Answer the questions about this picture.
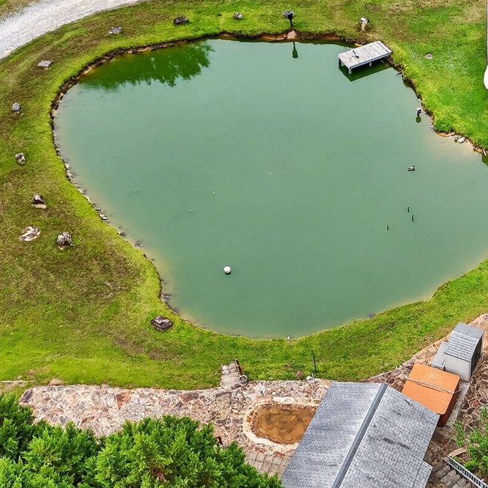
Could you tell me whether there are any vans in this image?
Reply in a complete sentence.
No, I can't see a single van in this photo.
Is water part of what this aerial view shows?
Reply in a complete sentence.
Yes, there is water in the image.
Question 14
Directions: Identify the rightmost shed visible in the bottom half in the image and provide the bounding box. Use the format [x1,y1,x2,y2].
[442,325,483,379]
